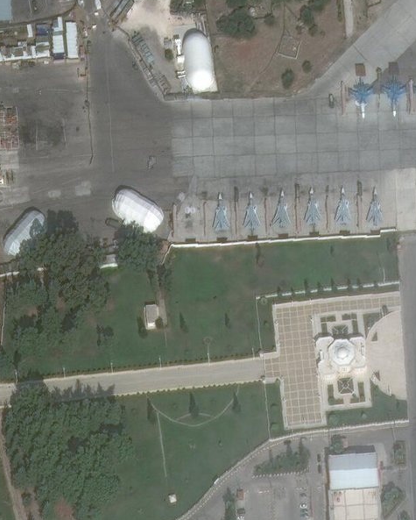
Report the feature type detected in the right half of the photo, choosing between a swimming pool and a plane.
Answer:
plane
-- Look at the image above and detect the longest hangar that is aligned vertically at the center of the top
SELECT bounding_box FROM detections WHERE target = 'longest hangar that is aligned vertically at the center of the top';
[185,33,217,95]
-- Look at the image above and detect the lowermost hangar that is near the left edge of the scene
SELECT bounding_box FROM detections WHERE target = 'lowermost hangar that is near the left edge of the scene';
[3,212,47,257]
